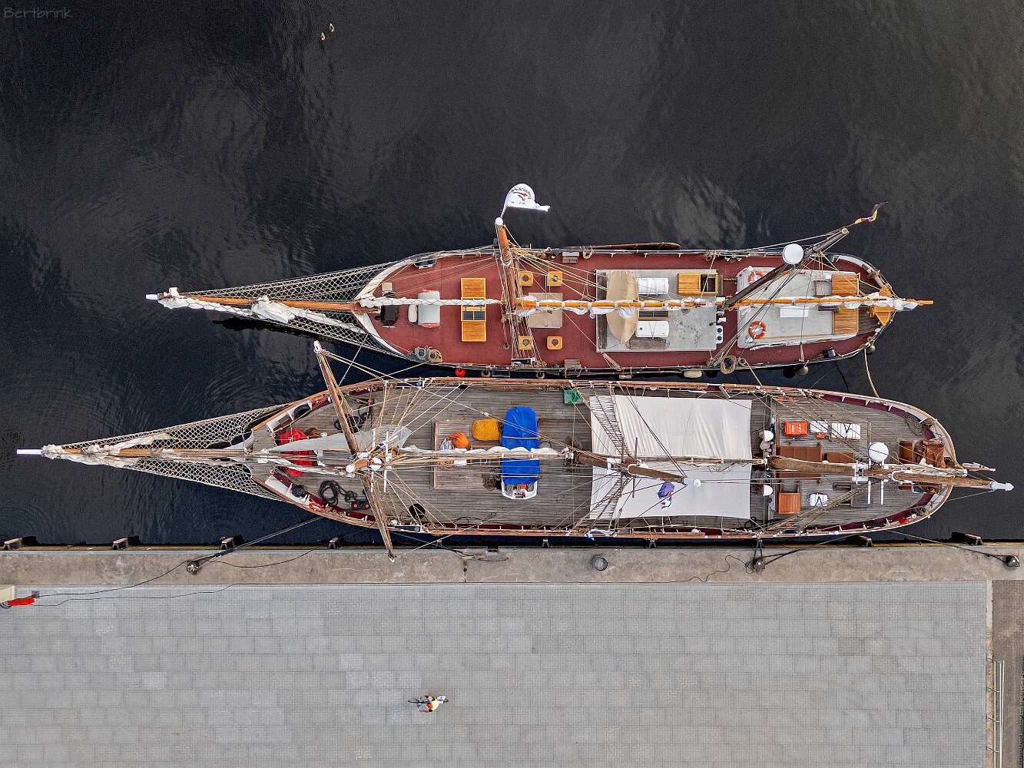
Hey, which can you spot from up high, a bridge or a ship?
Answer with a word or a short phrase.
ship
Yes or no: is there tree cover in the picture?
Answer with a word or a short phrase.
No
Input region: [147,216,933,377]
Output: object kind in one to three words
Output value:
ship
